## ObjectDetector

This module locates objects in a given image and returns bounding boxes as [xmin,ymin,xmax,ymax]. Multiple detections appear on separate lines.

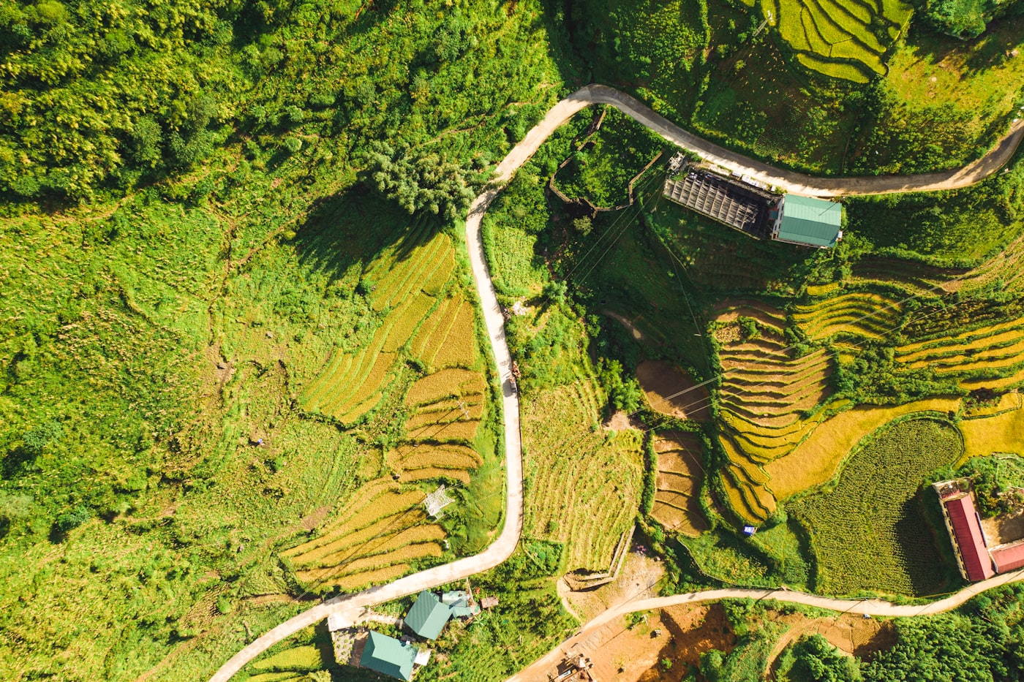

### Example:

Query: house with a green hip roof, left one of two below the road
[360,629,420,681]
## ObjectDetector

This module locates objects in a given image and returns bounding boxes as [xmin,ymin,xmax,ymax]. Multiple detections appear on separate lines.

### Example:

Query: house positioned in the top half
[761,194,843,251]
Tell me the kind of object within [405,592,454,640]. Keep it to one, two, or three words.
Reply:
house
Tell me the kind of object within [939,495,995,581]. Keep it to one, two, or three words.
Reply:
building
